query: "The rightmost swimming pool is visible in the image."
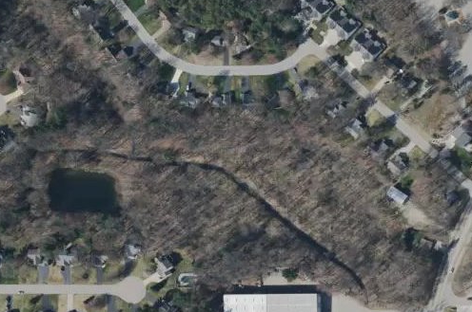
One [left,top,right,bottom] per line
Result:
[179,273,196,286]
